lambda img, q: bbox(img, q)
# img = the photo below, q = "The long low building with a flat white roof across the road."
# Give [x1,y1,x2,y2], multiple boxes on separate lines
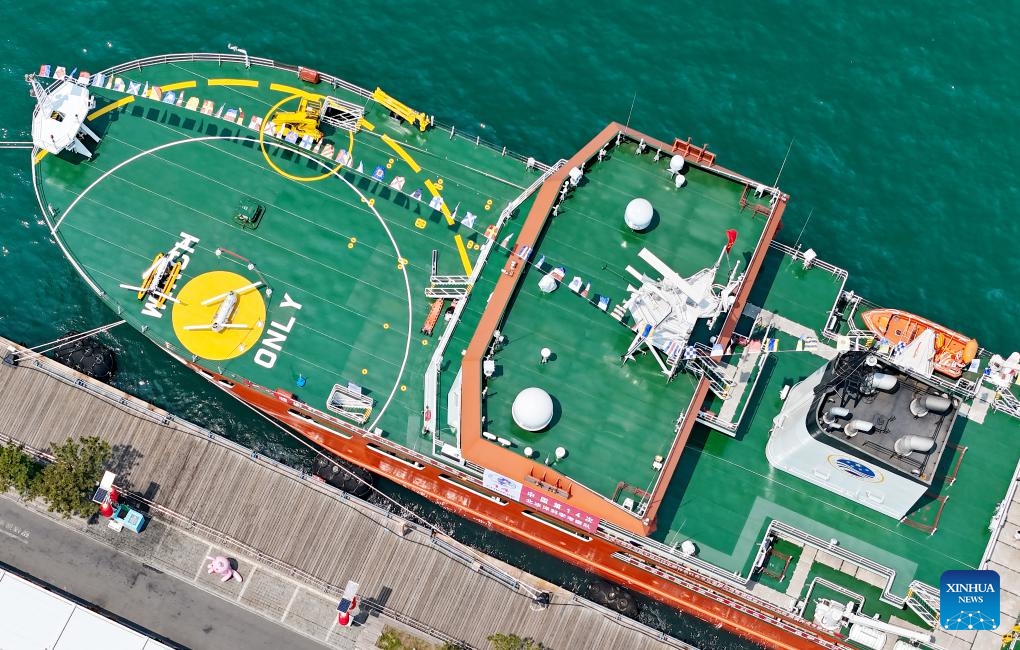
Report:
[0,565,187,650]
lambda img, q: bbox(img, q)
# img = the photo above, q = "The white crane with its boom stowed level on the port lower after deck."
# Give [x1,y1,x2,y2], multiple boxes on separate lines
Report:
[812,586,940,650]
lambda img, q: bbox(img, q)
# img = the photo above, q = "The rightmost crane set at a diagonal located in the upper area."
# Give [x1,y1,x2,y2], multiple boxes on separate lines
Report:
[368,85,431,133]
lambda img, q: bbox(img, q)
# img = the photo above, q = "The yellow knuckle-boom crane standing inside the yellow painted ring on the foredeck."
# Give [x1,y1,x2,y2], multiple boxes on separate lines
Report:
[271,91,329,145]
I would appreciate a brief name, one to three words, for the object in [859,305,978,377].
boat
